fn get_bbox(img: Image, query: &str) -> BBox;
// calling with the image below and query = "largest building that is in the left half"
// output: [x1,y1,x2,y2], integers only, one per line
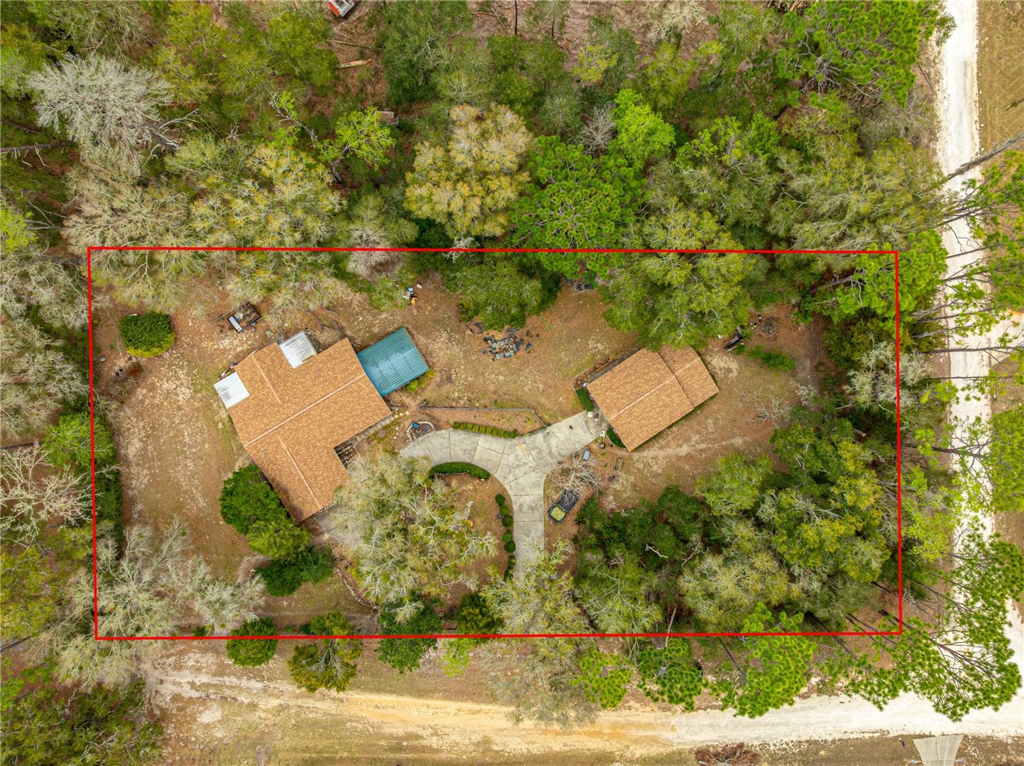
[228,339,390,521]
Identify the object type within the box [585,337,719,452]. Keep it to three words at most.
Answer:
building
